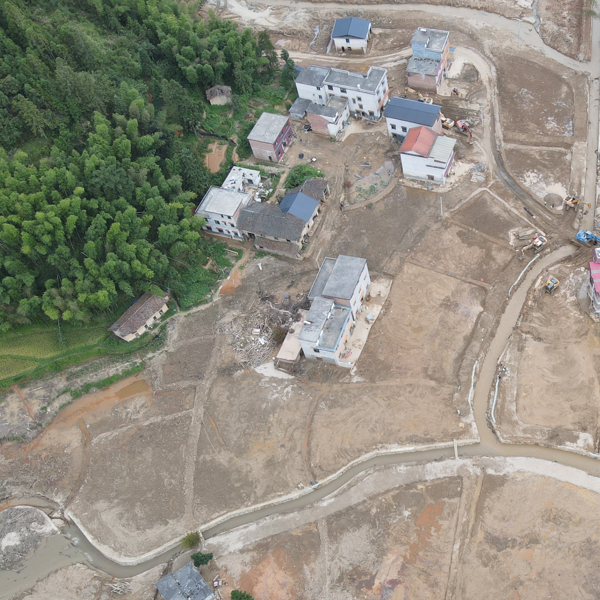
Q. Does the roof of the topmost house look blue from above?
Yes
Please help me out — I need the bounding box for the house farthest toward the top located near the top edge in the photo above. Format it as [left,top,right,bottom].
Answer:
[331,16,372,54]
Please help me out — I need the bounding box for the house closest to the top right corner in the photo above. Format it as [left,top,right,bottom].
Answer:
[406,26,454,93]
